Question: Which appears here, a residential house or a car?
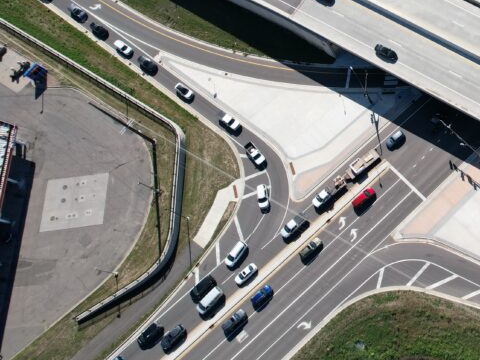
car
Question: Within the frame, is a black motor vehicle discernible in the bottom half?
Yes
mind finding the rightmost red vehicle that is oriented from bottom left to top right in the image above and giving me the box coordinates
[351,186,375,209]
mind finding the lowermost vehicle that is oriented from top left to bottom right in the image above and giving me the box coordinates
[244,144,266,168]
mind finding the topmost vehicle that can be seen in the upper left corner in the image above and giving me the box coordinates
[68,5,89,21]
